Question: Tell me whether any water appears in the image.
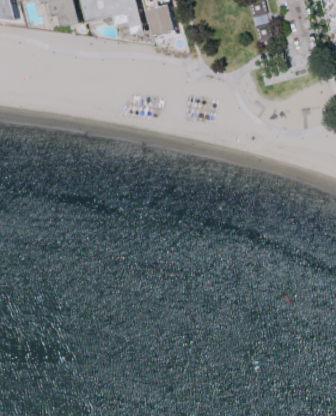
Yes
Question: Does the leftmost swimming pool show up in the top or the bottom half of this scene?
top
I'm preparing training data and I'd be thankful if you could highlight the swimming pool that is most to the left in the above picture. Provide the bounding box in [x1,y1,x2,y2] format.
[26,2,45,26]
